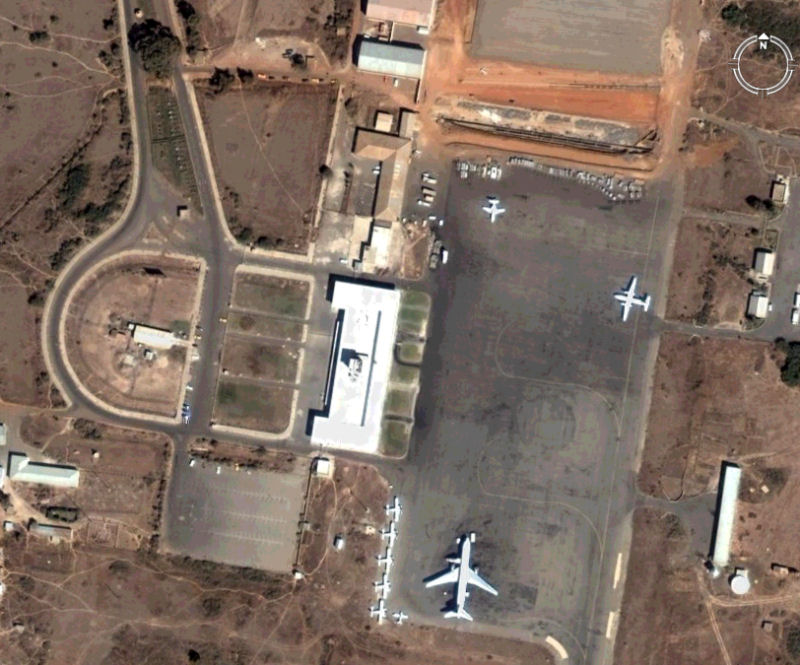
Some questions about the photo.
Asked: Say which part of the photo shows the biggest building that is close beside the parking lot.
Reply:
center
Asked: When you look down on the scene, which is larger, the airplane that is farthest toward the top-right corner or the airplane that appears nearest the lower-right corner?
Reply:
the airplane that appears nearest the lower-right corner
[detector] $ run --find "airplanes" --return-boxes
[615,277,652,321]
[482,198,505,223]
[393,611,405,624]
[382,523,398,547]
[379,548,395,571]
[427,536,498,620]
[376,574,391,598]
[387,499,402,522]
[371,601,387,624]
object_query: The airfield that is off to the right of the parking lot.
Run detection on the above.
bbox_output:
[376,148,800,665]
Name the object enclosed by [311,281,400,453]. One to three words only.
building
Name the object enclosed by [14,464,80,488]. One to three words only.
house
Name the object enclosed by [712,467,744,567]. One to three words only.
hangar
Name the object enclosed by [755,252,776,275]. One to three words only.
shed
